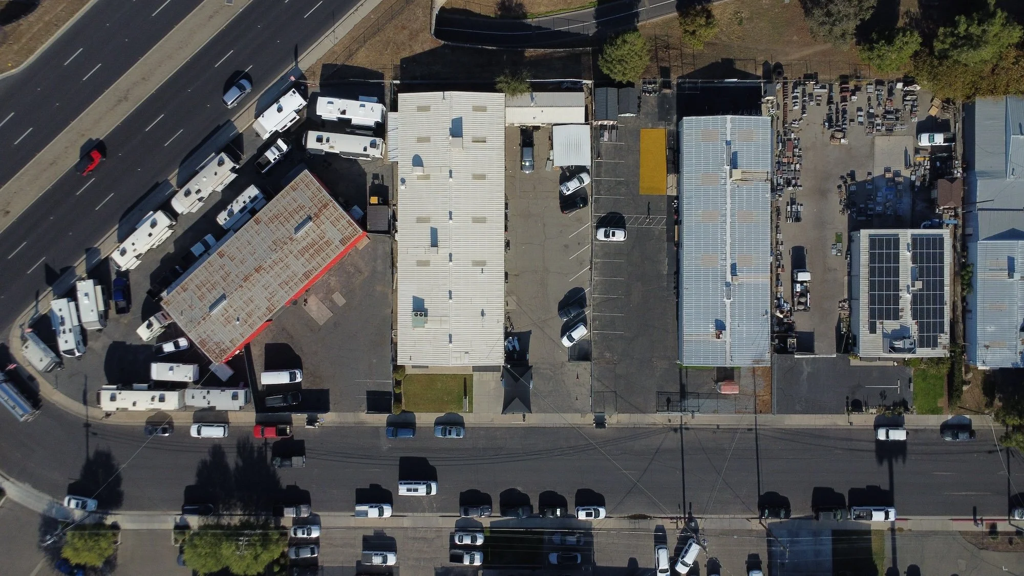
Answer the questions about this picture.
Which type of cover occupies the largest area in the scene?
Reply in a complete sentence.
Most of the picture is covered by paved ground.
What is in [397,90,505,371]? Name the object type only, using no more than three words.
building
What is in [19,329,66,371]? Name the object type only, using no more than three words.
trailer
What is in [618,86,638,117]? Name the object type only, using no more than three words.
shed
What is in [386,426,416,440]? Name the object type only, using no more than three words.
car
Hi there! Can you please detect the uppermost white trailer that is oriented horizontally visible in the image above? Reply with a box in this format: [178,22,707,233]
[317,98,389,130]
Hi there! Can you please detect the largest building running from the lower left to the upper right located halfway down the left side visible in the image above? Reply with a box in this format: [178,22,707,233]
[161,166,367,365]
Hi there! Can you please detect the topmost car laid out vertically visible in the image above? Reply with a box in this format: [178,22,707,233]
[519,130,536,174]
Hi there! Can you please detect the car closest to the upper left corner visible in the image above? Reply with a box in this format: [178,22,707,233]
[76,146,108,176]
